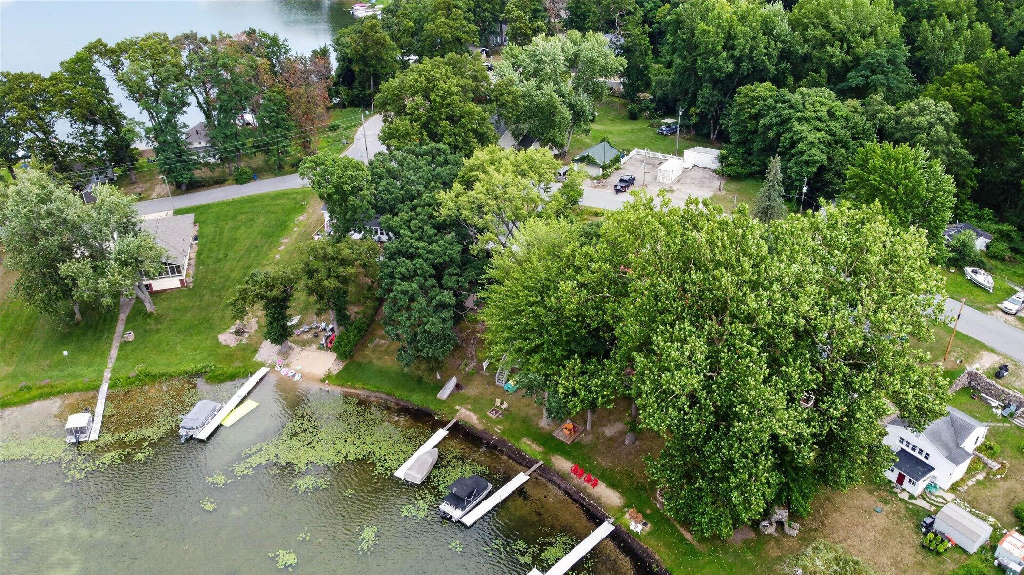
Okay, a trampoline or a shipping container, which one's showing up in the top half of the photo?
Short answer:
shipping container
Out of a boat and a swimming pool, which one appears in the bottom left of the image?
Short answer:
boat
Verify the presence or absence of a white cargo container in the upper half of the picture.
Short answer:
Yes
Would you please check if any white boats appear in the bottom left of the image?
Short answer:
Yes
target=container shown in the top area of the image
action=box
[657,158,683,183]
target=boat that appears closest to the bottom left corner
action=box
[64,406,91,447]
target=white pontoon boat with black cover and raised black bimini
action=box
[446,470,498,520]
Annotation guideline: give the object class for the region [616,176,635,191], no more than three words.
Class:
vehicle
